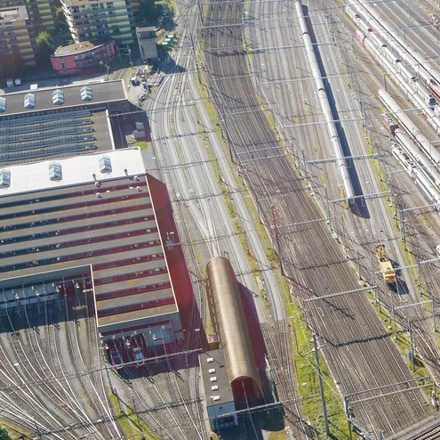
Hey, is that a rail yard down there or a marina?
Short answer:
rail yard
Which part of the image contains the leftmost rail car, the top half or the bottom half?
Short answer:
bottom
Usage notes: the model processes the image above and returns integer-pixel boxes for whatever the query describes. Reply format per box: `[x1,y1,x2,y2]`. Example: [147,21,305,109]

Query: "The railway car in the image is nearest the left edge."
[104,345,124,375]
